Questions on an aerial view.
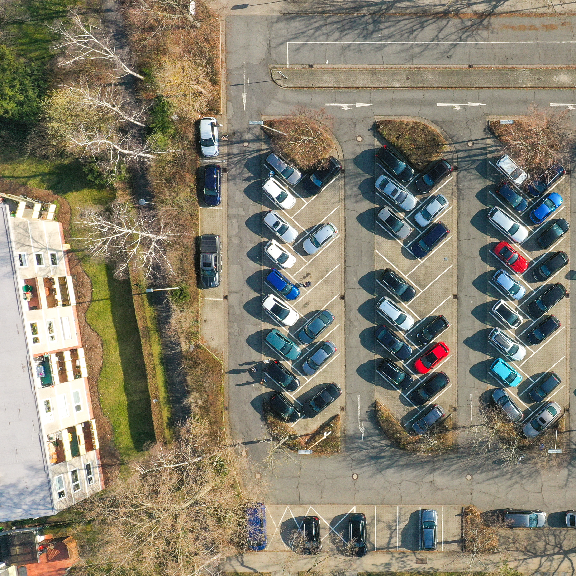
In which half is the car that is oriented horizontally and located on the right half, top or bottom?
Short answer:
bottom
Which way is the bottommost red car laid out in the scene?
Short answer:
on a diagonal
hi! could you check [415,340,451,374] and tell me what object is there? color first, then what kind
red car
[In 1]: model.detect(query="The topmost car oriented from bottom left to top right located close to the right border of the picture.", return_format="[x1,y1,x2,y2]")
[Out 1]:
[528,161,566,197]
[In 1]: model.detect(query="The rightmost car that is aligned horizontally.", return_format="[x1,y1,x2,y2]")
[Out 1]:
[505,509,547,530]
